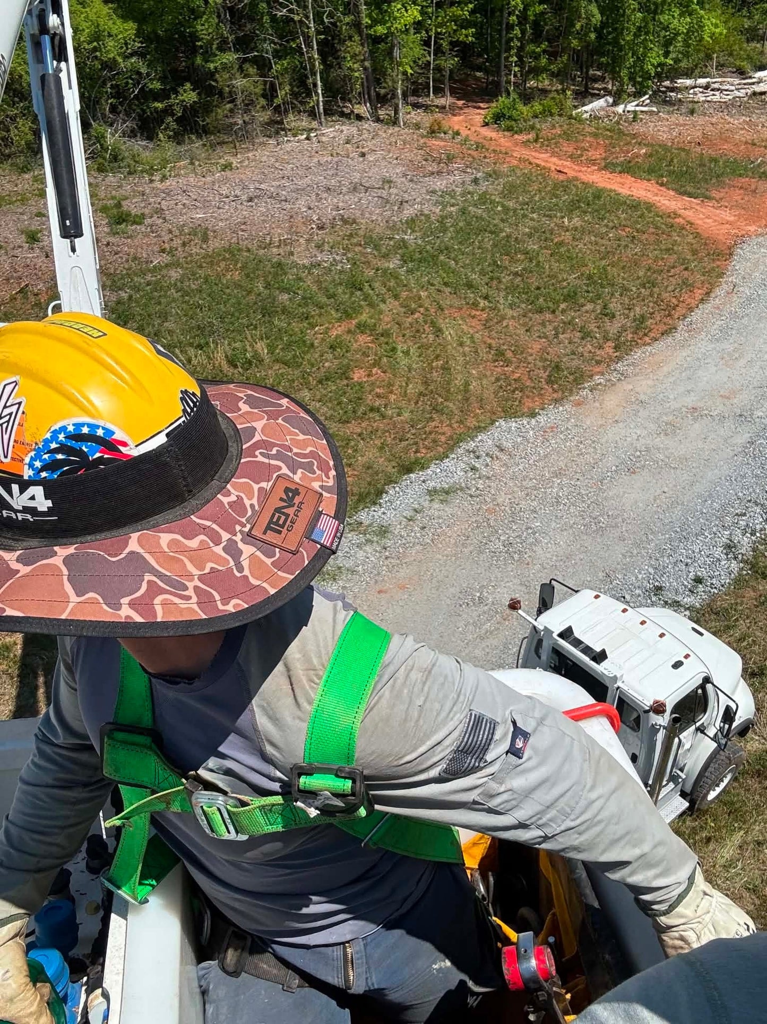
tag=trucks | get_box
[507,579,754,817]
